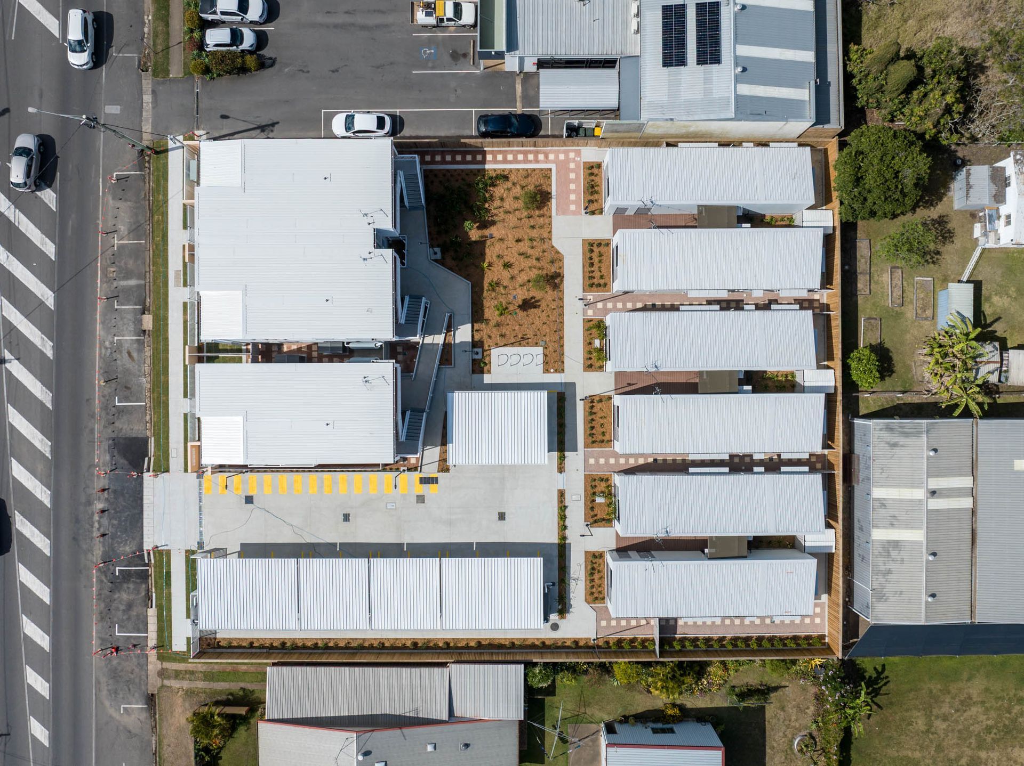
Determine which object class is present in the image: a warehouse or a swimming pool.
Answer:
warehouse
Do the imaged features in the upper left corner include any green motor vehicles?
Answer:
No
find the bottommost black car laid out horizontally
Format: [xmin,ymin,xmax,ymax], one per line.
[477,110,536,138]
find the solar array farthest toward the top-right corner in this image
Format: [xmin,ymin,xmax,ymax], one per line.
[696,0,720,65]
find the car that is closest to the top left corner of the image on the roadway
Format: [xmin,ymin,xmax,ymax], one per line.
[66,7,100,69]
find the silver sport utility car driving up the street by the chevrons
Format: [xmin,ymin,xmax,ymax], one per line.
[10,133,45,190]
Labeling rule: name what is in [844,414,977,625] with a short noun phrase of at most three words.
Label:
warehouse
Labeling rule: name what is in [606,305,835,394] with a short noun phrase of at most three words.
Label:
house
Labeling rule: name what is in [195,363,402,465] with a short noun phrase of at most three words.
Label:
building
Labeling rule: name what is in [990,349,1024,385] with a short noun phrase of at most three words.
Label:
shed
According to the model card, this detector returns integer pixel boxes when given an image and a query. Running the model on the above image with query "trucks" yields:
[410,0,478,27]
[199,0,269,25]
